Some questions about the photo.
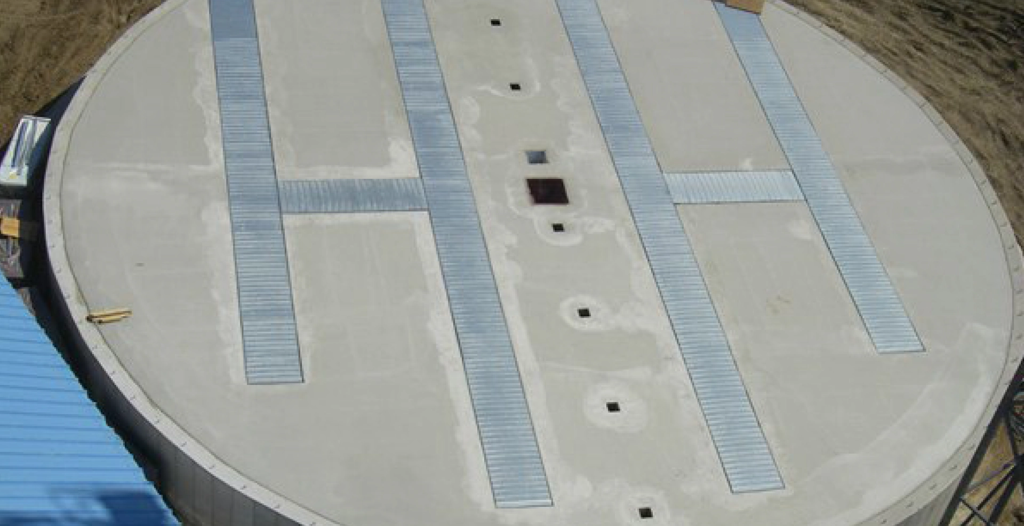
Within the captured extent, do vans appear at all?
No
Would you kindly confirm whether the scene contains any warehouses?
No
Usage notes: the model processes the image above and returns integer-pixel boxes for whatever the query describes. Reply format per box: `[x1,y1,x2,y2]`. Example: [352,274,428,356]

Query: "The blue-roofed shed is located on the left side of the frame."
[0,270,181,526]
